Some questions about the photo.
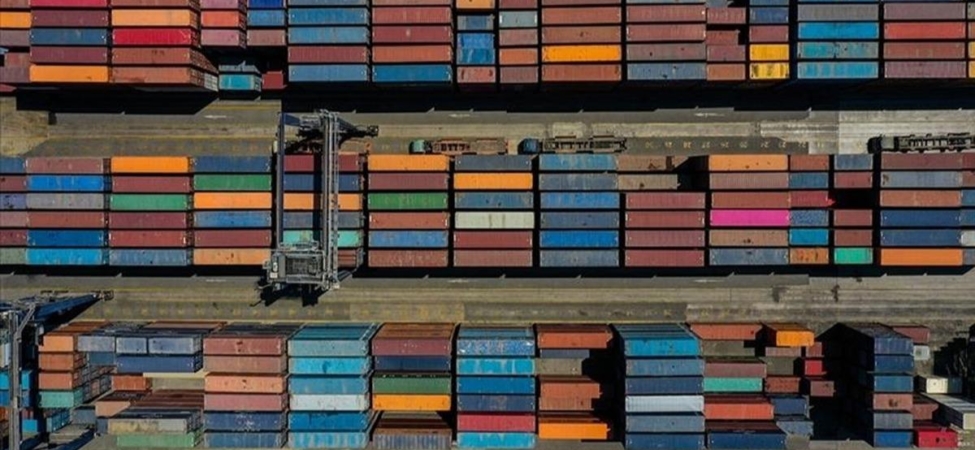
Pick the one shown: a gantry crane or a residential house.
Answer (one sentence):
The image shows a gantry crane.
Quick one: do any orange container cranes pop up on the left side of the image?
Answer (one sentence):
No, there is no orange container crane on the left side of the image.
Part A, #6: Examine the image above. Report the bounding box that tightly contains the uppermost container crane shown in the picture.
[267,108,382,293]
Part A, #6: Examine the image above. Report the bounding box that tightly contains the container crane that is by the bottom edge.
[0,290,107,450]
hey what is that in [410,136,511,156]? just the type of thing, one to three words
vehicle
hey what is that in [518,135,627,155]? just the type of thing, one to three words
vehicle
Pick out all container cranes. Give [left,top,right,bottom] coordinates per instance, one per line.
[267,108,382,293]
[0,290,107,450]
